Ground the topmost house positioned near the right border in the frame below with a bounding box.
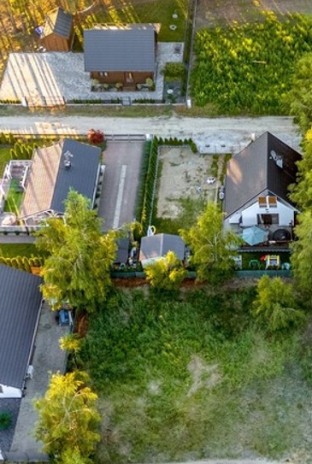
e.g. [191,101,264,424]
[227,130,302,228]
